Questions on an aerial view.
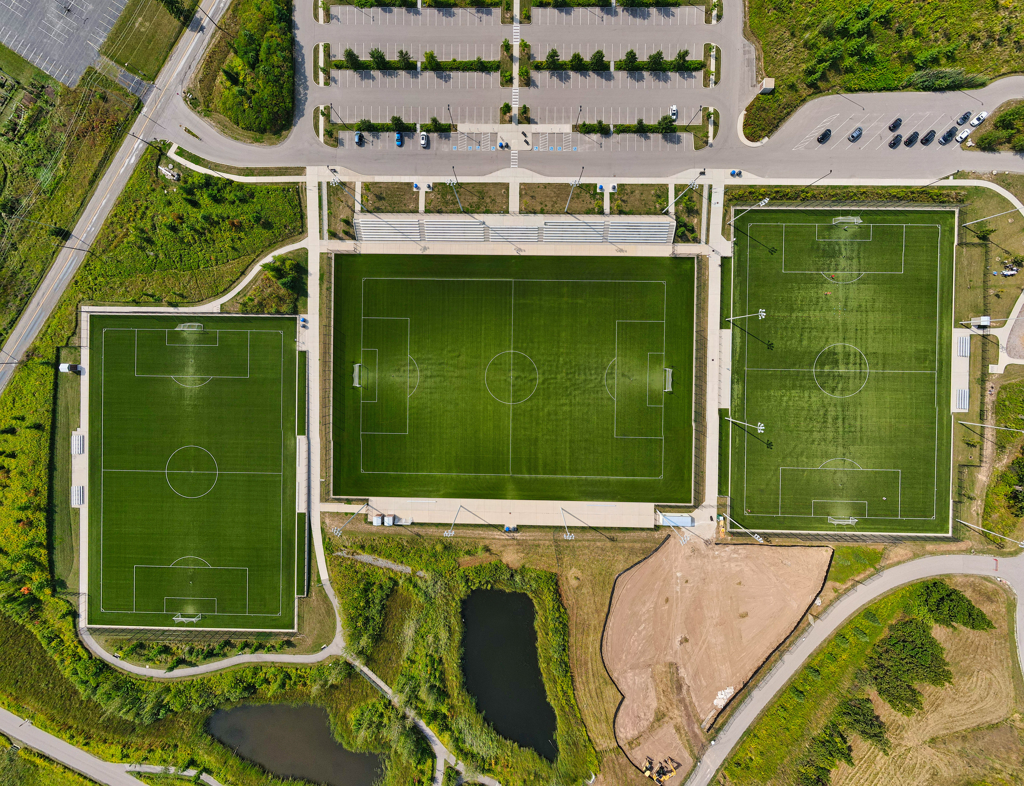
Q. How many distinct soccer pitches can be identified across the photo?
3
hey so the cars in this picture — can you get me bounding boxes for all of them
[353,131,362,144]
[957,111,972,125]
[905,132,921,146]
[848,126,865,142]
[940,128,958,143]
[971,110,990,126]
[394,131,402,146]
[921,130,939,145]
[956,128,971,142]
[419,132,427,146]
[889,117,905,131]
[818,129,834,143]
[889,135,904,148]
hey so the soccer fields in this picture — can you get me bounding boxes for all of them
[729,207,957,536]
[86,313,298,631]
[331,252,697,505]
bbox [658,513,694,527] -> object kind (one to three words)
building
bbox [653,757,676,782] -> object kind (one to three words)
work vehicle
